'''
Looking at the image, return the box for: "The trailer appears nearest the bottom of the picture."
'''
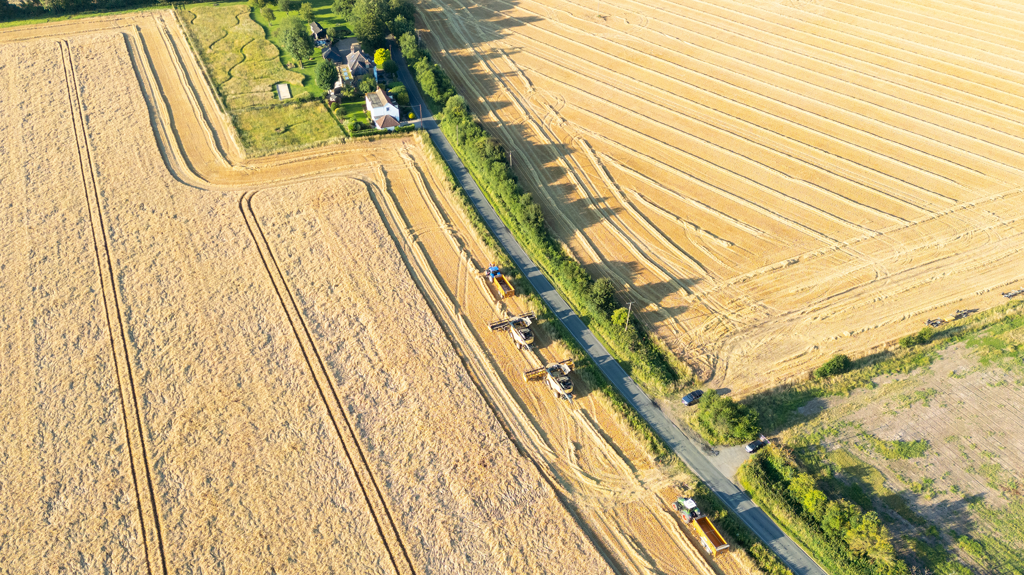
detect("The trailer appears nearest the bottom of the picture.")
[691,512,731,559]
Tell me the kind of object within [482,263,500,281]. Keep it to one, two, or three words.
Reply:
work vehicle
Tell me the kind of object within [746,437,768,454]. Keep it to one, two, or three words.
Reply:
car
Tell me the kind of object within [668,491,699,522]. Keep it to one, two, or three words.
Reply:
work vehicle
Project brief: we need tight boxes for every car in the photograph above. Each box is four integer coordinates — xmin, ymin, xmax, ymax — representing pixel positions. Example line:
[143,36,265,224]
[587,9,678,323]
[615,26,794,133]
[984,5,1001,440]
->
[746,437,768,454]
[682,389,704,407]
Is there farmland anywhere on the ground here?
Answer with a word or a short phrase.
Yes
